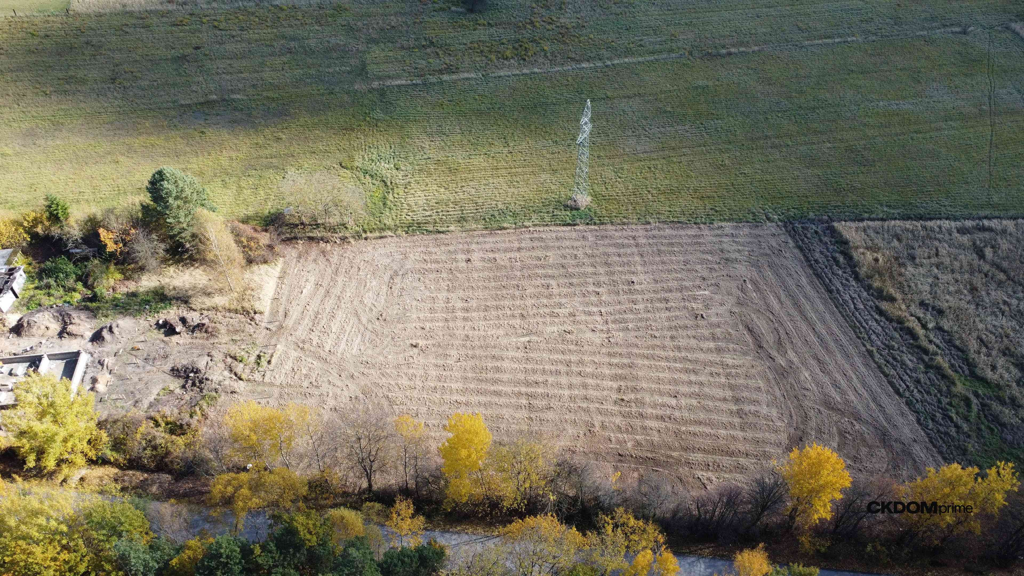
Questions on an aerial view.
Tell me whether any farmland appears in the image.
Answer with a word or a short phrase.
Yes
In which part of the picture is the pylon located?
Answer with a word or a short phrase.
top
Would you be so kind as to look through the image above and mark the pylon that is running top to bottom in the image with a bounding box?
[572,97,594,205]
